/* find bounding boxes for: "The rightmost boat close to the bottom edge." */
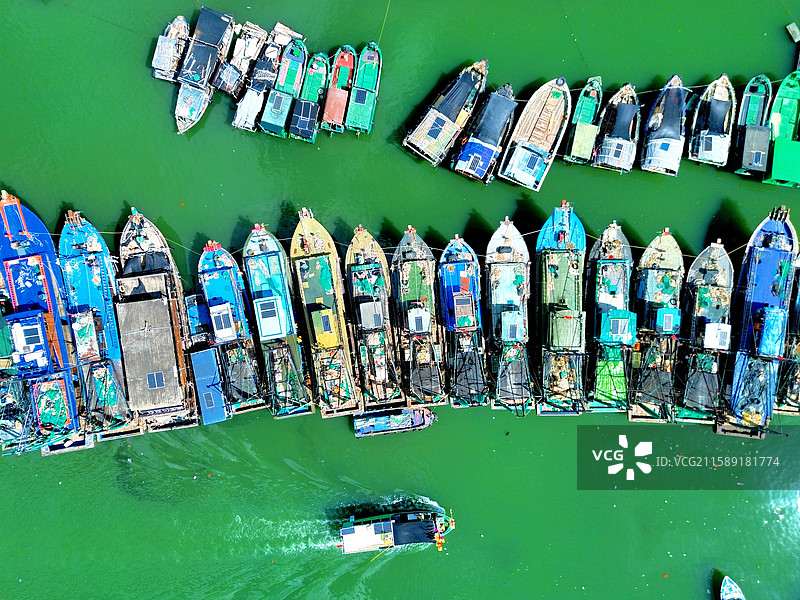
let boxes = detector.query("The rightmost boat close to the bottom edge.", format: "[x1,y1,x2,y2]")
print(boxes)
[716,573,748,600]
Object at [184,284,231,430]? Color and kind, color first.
blue boat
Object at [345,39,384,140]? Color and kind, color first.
green boat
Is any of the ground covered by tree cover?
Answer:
No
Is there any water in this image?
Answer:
Yes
